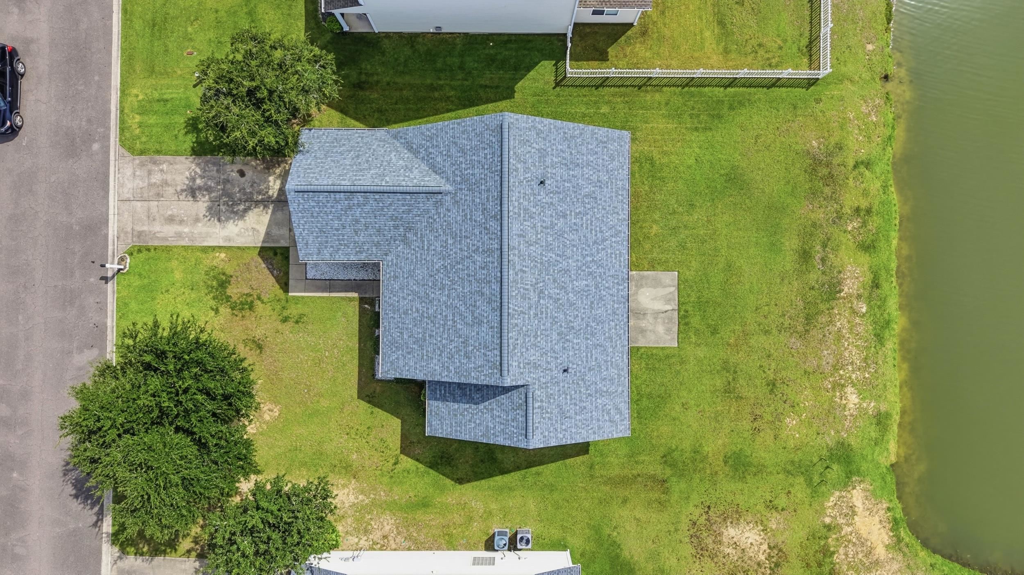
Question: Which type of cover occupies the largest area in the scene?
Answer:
grass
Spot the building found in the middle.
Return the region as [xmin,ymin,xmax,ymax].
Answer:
[285,111,631,450]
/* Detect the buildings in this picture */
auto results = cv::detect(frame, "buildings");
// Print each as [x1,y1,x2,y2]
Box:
[285,111,631,450]
[322,0,653,35]
[304,548,582,575]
